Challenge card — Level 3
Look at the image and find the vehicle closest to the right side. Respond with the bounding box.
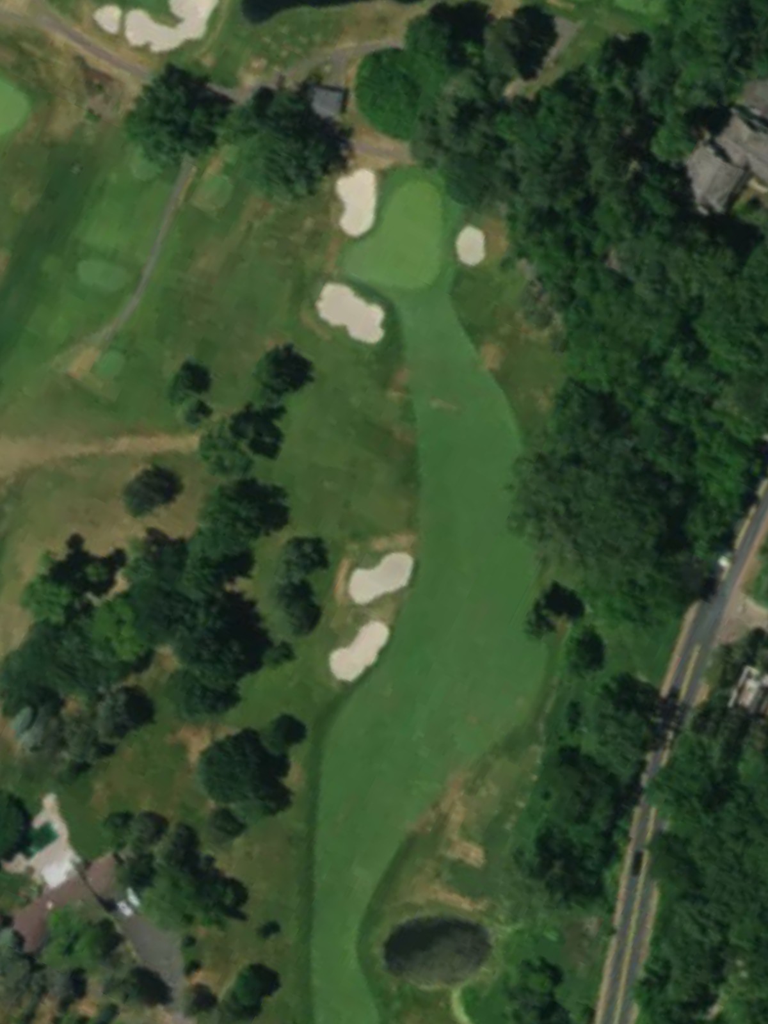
[714,554,729,575]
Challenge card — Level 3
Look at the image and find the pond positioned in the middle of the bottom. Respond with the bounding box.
[388,919,491,980]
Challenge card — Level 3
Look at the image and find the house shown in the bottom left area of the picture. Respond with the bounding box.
[11,855,128,955]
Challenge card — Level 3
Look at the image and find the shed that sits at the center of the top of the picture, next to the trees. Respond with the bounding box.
[311,85,345,117]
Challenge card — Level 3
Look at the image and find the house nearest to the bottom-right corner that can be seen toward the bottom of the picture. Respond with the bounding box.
[727,666,768,716]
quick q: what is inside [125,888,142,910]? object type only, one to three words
car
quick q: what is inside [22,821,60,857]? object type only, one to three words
swimming pool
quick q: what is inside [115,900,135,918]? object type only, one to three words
car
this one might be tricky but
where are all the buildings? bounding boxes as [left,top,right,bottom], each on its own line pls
[727,666,768,716]
[311,85,345,117]
[11,855,128,955]
[684,72,768,208]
